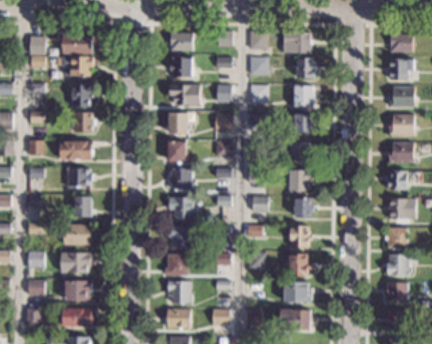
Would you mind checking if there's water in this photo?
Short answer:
No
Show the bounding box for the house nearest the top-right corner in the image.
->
[390,34,416,54]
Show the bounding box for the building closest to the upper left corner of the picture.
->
[30,36,48,55]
